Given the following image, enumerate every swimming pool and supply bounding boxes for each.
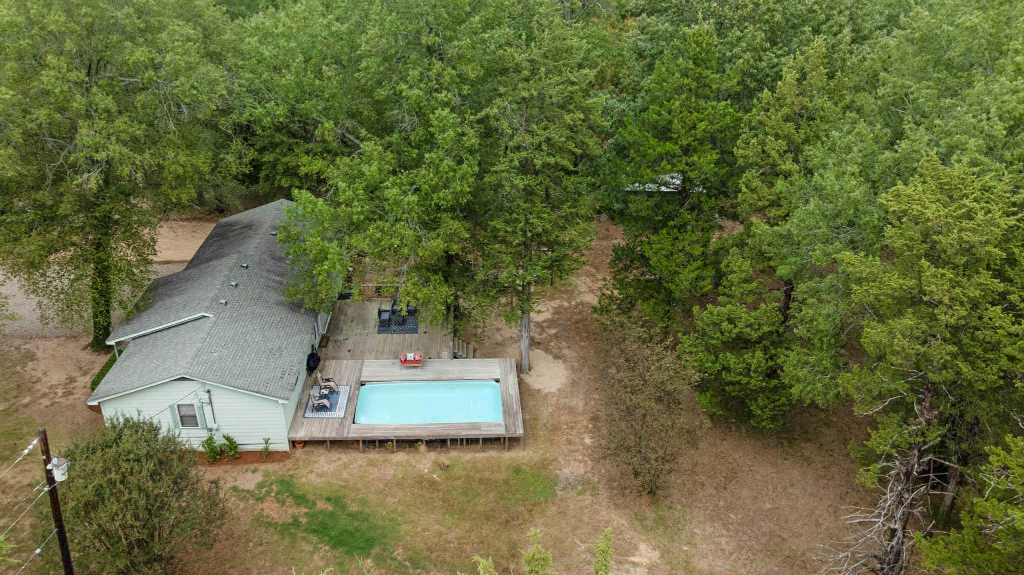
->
[352,379,504,441]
